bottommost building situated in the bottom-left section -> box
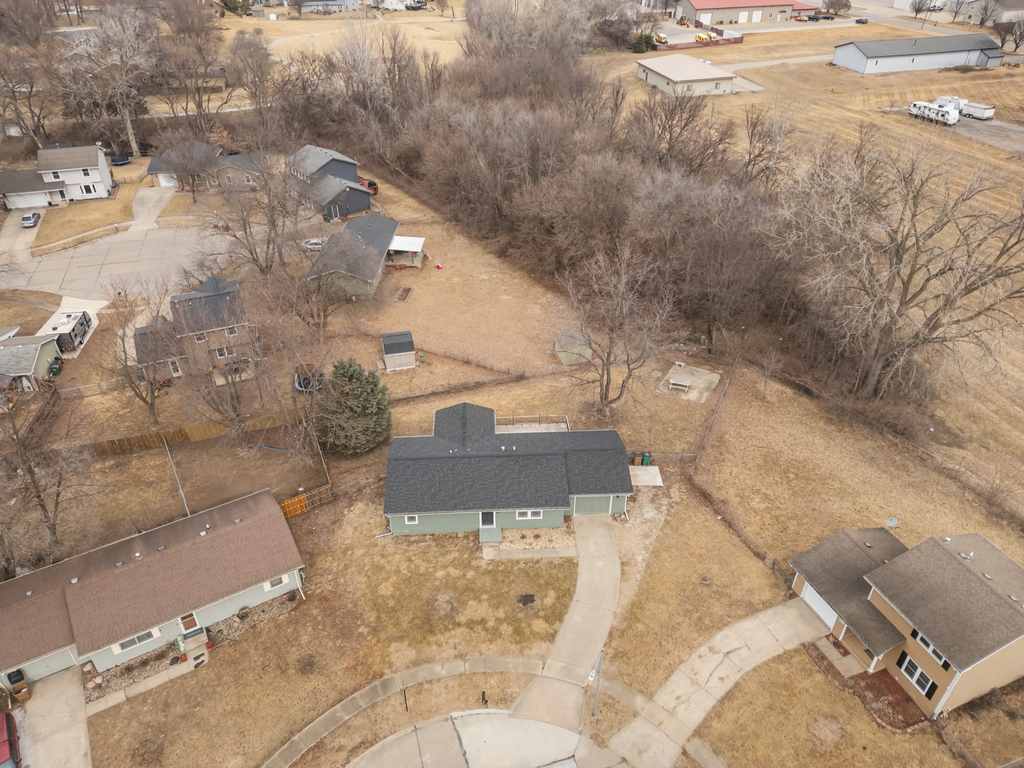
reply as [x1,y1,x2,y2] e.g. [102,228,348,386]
[0,488,312,710]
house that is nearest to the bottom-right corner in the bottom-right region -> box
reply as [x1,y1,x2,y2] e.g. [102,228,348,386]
[786,519,1024,719]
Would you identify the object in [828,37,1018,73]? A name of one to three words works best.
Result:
barn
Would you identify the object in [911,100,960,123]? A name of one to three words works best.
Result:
trailer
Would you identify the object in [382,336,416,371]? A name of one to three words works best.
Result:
shed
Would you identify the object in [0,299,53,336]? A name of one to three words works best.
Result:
house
